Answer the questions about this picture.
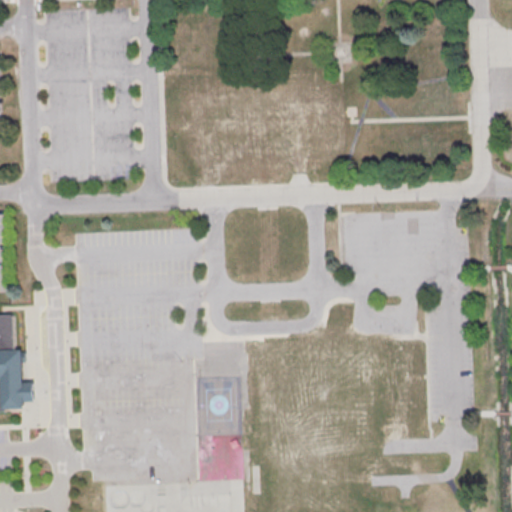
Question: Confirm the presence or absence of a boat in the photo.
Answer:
No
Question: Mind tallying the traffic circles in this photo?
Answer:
0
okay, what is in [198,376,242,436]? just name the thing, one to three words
sports court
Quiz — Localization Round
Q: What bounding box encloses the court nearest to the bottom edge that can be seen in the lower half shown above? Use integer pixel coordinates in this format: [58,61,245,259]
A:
[200,436,244,481]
